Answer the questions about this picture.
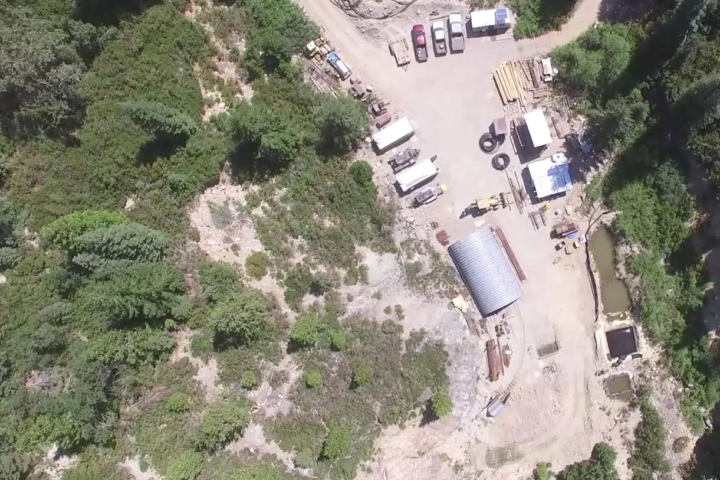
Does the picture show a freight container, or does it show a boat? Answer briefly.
freight container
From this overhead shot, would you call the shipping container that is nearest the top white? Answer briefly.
Yes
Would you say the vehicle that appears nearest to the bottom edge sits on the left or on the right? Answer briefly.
right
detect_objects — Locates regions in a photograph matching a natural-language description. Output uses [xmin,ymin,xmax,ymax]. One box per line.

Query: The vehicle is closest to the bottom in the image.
[552,218,578,238]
